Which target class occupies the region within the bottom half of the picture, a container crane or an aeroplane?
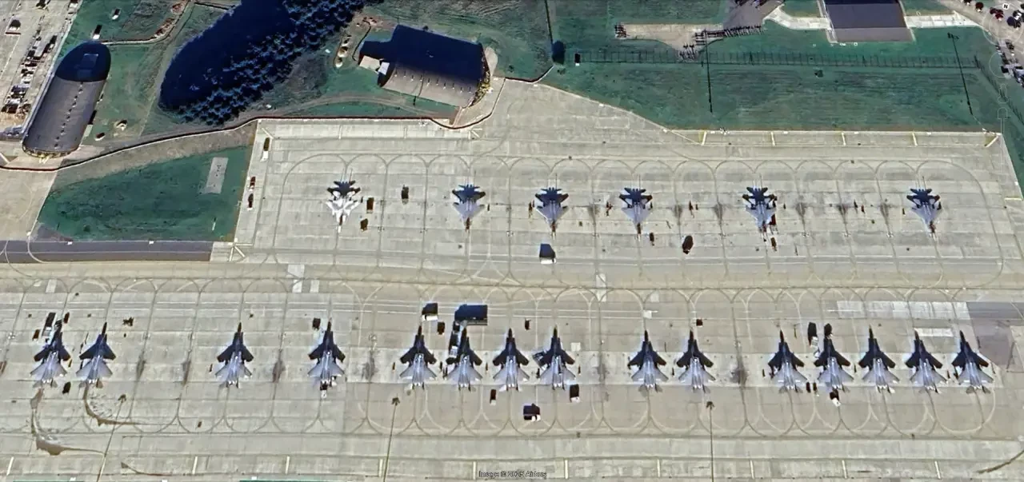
aeroplane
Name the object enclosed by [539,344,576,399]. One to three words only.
airplane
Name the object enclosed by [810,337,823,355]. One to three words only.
vehicle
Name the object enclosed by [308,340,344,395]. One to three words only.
airplane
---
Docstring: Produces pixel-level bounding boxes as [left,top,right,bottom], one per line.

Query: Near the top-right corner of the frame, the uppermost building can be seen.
[829,0,914,43]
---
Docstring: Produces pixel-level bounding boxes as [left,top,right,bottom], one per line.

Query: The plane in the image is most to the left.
[29,336,66,393]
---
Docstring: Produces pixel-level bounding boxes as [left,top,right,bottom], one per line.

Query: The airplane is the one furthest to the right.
[958,346,994,402]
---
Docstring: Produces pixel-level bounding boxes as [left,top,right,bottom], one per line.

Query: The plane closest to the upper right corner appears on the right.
[910,190,944,242]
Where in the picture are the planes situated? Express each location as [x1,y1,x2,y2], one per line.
[29,336,66,393]
[327,183,360,234]
[308,340,344,395]
[75,337,112,393]
[493,343,529,399]
[620,192,654,241]
[911,346,947,402]
[910,190,944,242]
[680,345,716,400]
[535,188,569,239]
[632,344,669,400]
[400,341,436,397]
[863,345,900,401]
[958,346,994,402]
[452,188,485,237]
[539,344,576,399]
[818,343,855,400]
[446,342,483,398]
[744,191,777,240]
[215,340,251,395]
[771,345,807,401]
